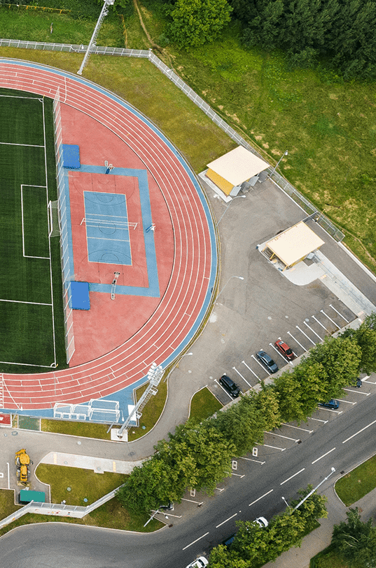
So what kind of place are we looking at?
sports ground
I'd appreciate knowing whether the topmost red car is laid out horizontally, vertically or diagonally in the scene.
diagonally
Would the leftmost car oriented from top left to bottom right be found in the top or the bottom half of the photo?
bottom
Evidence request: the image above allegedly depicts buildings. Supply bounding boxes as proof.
[205,146,269,191]
[263,221,325,273]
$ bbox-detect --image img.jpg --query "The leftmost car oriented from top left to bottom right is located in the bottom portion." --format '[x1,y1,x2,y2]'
[219,373,242,397]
